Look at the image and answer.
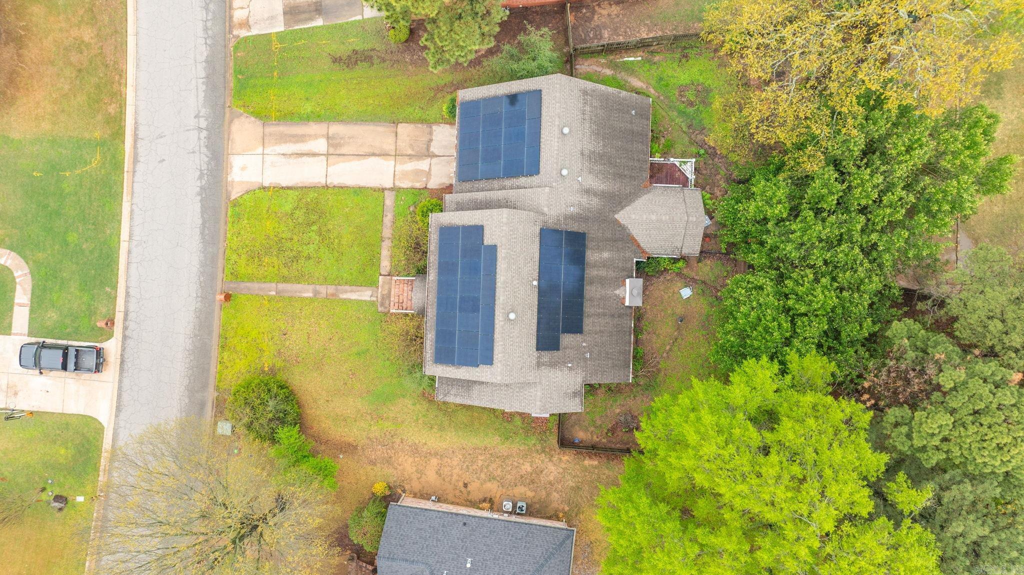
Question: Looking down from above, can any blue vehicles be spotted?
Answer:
No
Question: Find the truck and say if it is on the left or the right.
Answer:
left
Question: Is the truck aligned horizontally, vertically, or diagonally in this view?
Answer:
horizontally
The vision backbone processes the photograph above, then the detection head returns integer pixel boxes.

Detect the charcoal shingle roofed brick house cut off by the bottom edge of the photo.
[376,486,577,575]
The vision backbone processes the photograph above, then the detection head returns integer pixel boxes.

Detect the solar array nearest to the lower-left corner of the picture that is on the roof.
[434,224,497,368]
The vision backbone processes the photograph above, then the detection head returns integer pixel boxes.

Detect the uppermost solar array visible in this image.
[458,89,541,182]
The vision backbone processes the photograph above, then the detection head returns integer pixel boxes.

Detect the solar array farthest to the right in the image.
[536,227,586,352]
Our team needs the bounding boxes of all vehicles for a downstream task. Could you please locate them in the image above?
[19,338,105,376]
